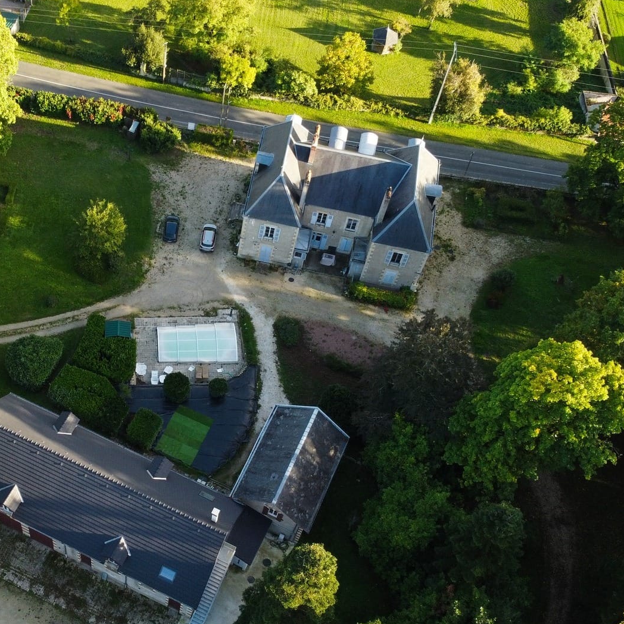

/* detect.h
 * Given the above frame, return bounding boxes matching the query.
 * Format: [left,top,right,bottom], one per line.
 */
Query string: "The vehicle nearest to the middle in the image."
[200,220,219,251]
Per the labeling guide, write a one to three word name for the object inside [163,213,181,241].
car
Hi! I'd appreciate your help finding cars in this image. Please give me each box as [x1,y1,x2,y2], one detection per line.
[163,213,181,241]
[200,220,219,251]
